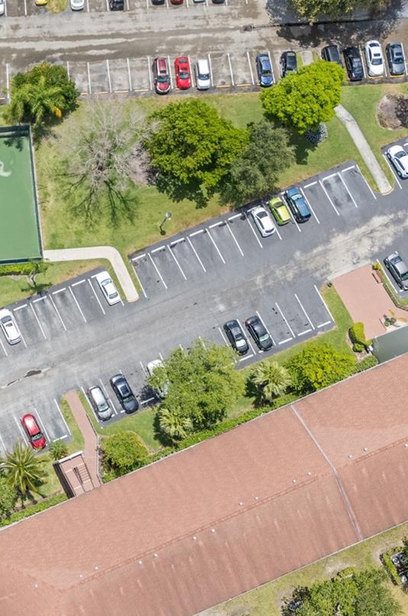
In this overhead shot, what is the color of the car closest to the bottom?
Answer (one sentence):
The car closest to the bottom is red.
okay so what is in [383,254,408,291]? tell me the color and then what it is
gray car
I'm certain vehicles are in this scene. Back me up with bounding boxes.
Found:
[194,60,212,90]
[0,0,6,16]
[364,42,384,77]
[0,309,22,346]
[173,56,193,92]
[384,42,406,77]
[95,270,121,308]
[34,0,47,6]
[152,59,172,93]
[388,146,408,179]
[267,197,292,229]
[249,205,278,241]
[343,47,365,81]
[87,386,112,422]
[278,49,298,73]
[383,254,408,291]
[284,187,313,224]
[255,54,273,87]
[20,411,48,452]
[69,0,84,11]
[221,319,250,357]
[110,374,139,413]
[109,0,124,8]
[322,46,342,78]
[245,315,273,354]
